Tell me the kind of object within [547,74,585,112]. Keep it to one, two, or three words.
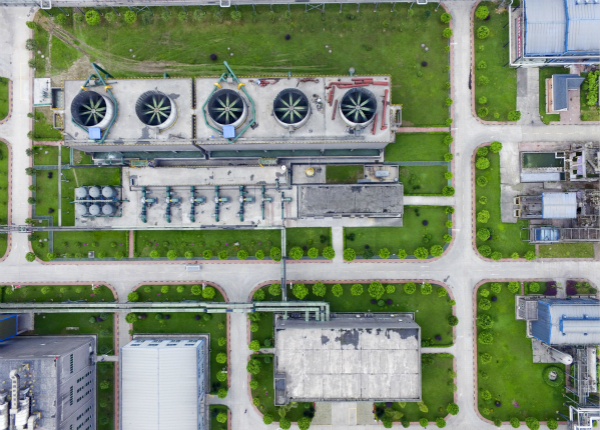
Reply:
house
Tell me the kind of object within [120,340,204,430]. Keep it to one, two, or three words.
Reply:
building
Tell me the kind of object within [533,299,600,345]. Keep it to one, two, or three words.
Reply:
building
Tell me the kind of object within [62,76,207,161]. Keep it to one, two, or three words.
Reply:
cooling tower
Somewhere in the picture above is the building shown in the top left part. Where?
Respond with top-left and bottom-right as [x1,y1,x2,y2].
[34,78,55,107]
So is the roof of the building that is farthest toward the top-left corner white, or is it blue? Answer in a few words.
white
